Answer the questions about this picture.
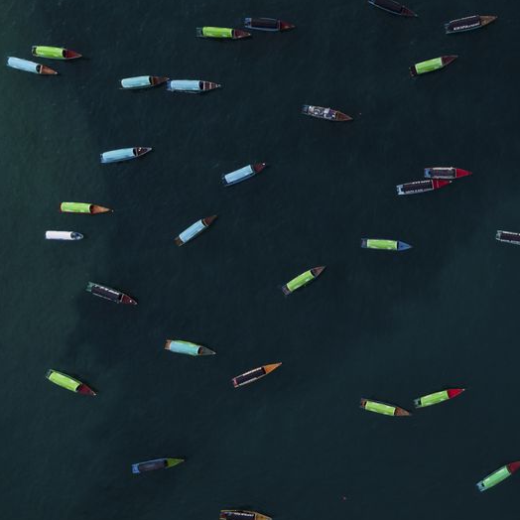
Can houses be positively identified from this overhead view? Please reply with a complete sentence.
No, I can see no house in this picture.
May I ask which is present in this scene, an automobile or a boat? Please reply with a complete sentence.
Looking from above, you can make out a boat.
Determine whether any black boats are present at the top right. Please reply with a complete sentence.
Yes, a black boat can be seen at the top right.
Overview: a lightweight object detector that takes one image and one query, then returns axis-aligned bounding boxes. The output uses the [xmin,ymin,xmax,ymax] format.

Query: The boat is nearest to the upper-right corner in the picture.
[444,16,498,34]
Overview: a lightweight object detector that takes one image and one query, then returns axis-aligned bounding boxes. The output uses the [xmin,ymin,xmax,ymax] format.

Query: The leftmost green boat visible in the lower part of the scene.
[46,369,97,395]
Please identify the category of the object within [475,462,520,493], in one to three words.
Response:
boat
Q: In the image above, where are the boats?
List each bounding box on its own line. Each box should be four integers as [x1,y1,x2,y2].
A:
[231,363,282,388]
[414,388,465,409]
[165,79,220,92]
[99,147,153,163]
[496,230,520,244]
[396,179,452,194]
[130,458,185,474]
[302,104,354,121]
[444,16,498,34]
[359,398,411,416]
[30,46,82,59]
[162,340,216,356]
[194,26,251,38]
[58,203,113,214]
[475,462,520,493]
[218,511,272,520]
[423,167,472,178]
[410,55,459,76]
[243,17,295,30]
[360,238,413,251]
[5,56,58,75]
[174,215,218,248]
[220,163,266,186]
[46,369,97,395]
[281,265,327,295]
[84,282,137,304]
[46,230,83,240]
[118,75,170,88]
